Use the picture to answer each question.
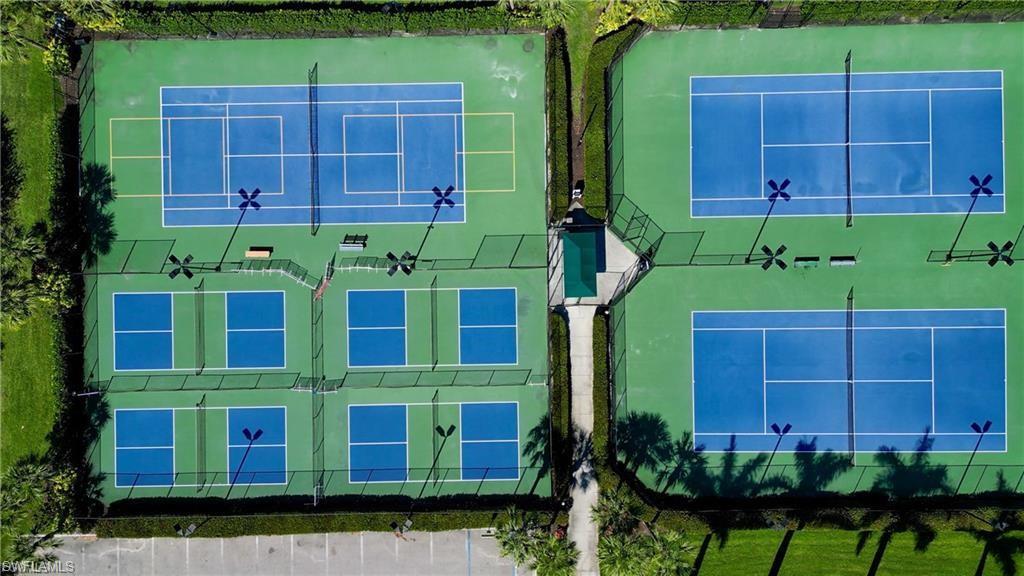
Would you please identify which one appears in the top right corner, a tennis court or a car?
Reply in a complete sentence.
What appears in the top right corner is a tennis court.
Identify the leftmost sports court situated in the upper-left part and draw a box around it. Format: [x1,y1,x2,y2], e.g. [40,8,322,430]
[110,116,283,198]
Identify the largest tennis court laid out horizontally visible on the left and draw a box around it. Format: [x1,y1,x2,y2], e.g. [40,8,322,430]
[160,82,466,227]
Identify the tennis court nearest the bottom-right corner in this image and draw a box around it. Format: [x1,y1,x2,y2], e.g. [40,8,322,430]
[692,308,1007,452]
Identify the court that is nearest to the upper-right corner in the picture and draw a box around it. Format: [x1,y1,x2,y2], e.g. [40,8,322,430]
[690,70,1005,218]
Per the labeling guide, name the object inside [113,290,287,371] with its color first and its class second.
blue sports court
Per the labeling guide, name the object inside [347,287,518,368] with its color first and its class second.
blue sports court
